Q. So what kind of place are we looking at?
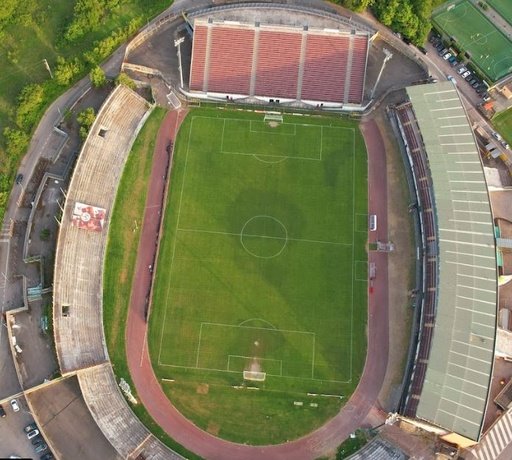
sports ground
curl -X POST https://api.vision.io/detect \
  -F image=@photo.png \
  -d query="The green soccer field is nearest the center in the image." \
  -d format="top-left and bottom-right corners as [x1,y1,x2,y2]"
[149,102,368,446]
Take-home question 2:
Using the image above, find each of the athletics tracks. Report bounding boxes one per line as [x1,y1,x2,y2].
[124,106,390,460]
